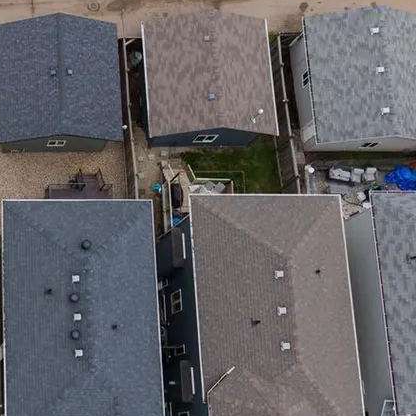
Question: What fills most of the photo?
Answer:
buildings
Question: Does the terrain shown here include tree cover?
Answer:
No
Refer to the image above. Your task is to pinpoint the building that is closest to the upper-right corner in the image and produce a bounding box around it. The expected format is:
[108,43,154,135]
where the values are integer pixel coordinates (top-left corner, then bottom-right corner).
[285,2,416,156]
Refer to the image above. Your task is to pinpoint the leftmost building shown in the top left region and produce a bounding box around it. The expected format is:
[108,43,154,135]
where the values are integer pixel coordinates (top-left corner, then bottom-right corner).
[0,12,124,157]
